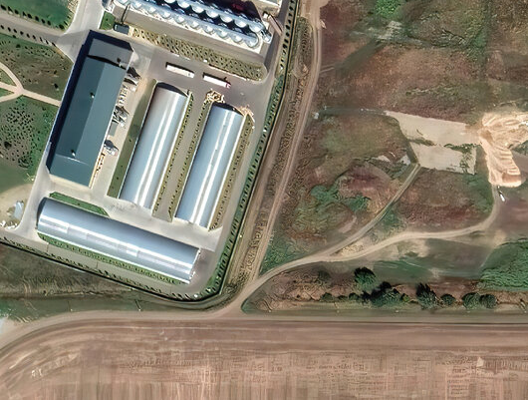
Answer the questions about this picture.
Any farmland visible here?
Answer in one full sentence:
Yes, some farmland is visible.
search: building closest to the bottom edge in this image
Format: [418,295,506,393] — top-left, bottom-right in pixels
[35,199,201,284]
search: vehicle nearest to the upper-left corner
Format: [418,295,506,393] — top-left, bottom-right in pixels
[164,64,194,78]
